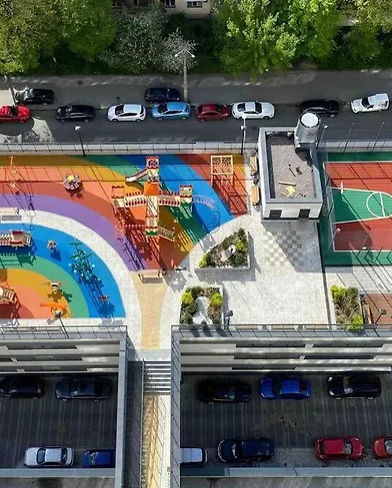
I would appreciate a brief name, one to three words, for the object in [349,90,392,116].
car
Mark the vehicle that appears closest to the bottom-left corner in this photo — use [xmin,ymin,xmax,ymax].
[22,445,75,470]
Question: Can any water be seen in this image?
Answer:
No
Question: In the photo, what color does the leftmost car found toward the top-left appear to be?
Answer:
red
